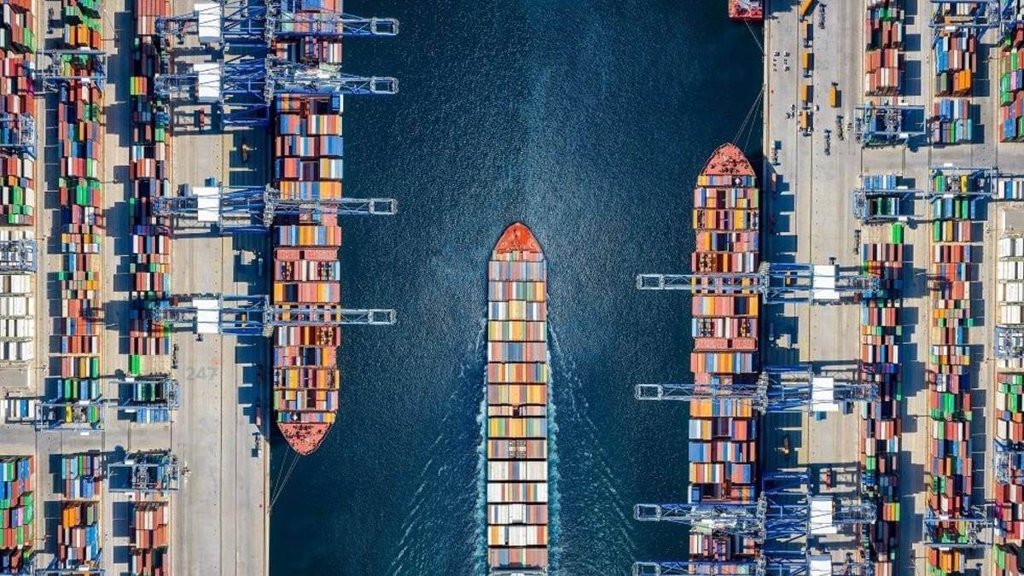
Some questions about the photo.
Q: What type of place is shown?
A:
port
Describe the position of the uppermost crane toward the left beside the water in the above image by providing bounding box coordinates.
[153,5,395,64]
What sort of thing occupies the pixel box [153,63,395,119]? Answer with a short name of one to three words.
container crane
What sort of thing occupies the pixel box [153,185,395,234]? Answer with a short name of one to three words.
container crane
